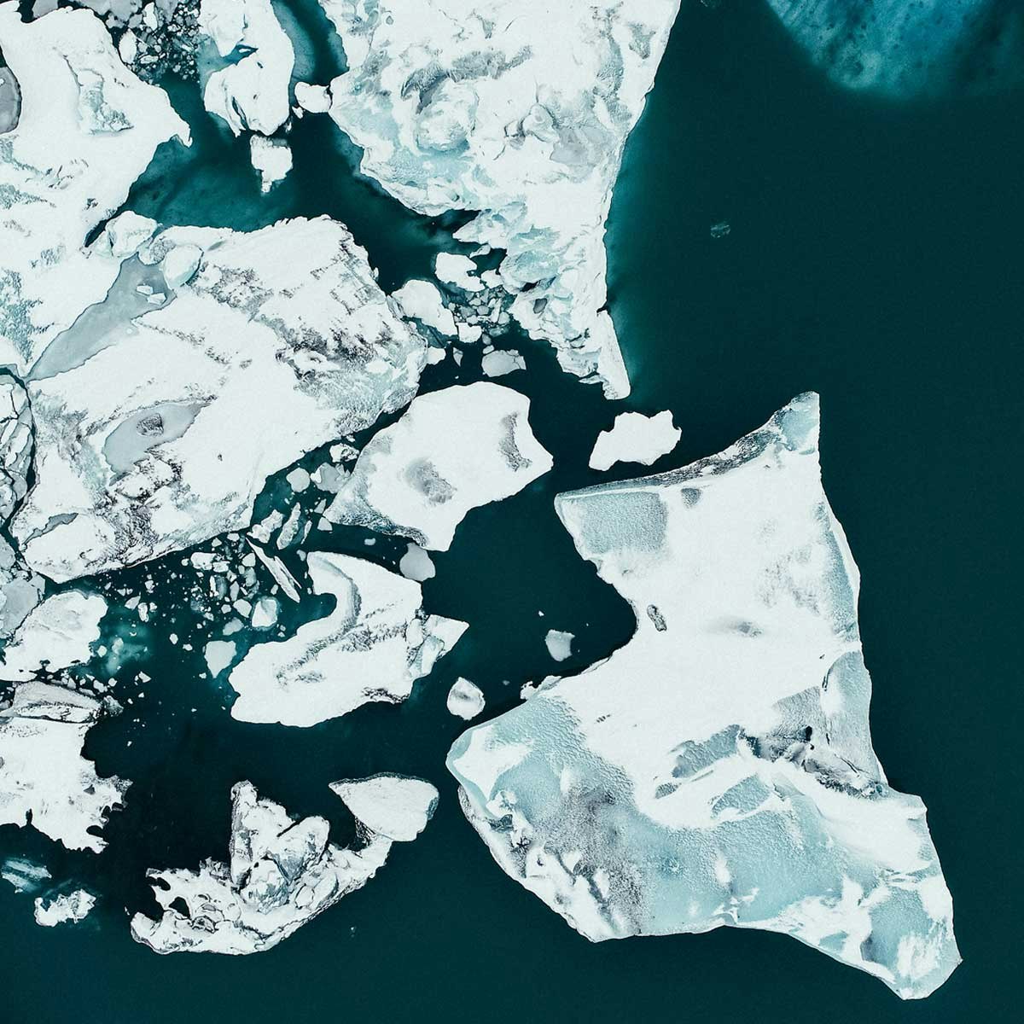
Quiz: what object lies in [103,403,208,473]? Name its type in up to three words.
pond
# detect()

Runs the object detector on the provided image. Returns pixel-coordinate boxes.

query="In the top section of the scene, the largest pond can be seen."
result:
[25,253,175,382]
